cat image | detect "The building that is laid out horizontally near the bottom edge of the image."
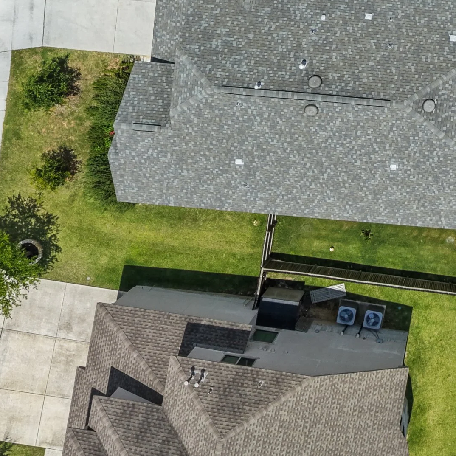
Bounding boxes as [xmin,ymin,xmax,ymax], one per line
[63,286,410,456]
